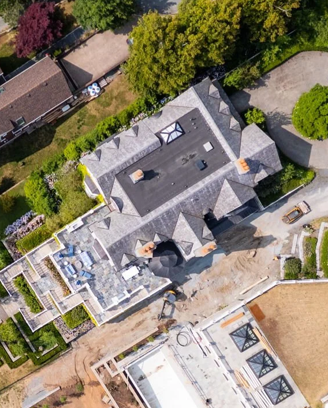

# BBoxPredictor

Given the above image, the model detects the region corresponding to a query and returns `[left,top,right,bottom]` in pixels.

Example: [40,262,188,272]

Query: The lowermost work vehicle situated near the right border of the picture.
[283,200,313,224]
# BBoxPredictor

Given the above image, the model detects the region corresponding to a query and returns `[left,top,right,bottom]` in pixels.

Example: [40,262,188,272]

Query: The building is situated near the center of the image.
[79,77,283,287]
